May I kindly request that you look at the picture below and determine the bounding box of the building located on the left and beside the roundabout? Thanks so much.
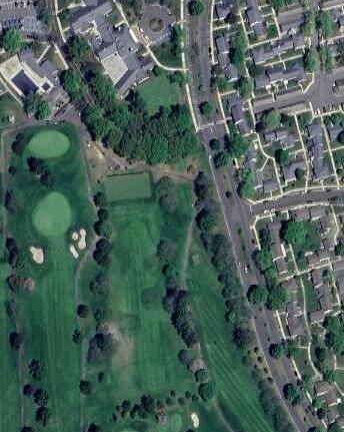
[69,0,144,87]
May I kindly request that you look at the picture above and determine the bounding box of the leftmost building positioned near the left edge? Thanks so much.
[17,45,60,87]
